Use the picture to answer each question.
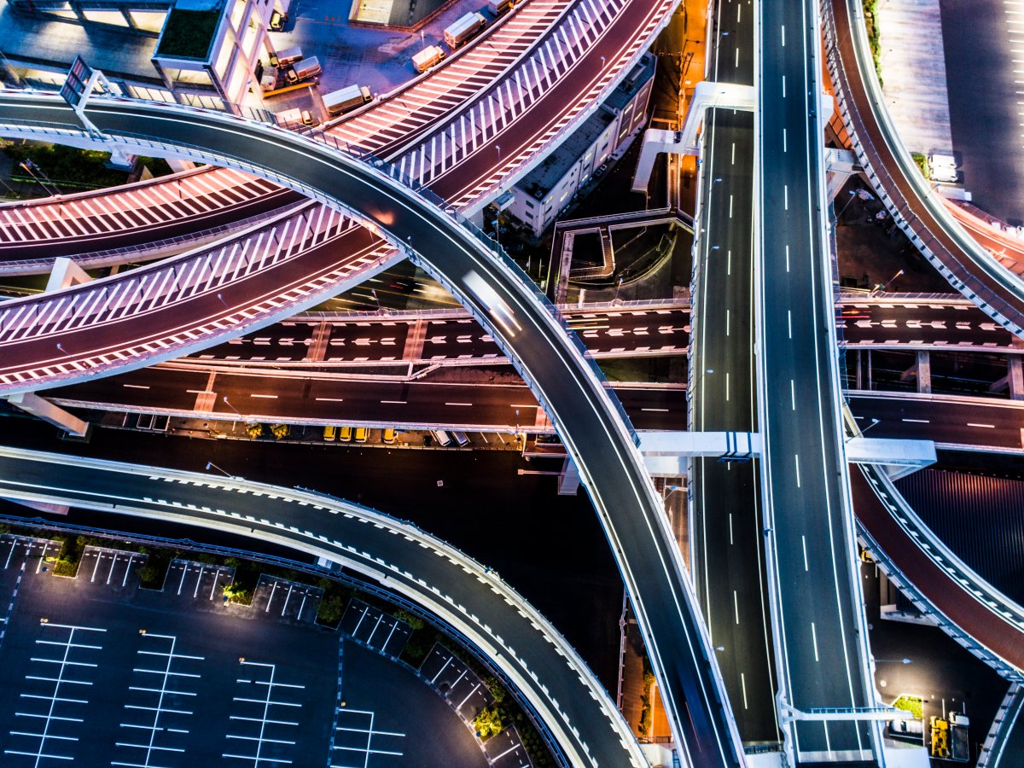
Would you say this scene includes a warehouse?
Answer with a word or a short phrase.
Yes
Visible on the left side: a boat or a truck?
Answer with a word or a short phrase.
truck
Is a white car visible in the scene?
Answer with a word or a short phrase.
Yes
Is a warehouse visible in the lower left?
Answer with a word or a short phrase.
No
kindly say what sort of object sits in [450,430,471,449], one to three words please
car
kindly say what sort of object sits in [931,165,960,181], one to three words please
vehicle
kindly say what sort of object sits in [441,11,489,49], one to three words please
truck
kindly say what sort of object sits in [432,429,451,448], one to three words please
car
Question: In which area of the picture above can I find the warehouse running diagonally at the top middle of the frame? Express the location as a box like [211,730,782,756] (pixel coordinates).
[491,54,658,233]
